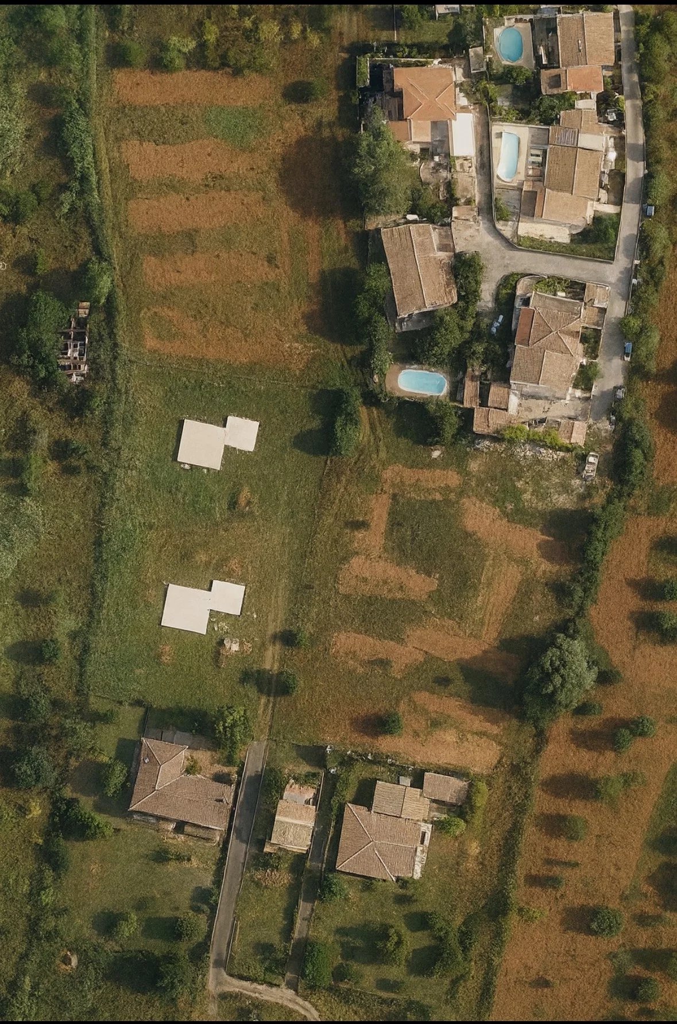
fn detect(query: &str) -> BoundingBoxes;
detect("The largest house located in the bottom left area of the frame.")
[128,738,233,842]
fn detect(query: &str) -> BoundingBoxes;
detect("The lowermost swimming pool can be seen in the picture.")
[396,368,449,396]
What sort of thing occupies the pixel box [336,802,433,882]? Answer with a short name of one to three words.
house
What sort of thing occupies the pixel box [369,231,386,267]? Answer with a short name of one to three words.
shed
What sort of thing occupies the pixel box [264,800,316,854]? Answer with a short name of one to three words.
house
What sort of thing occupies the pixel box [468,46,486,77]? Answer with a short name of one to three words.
shed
